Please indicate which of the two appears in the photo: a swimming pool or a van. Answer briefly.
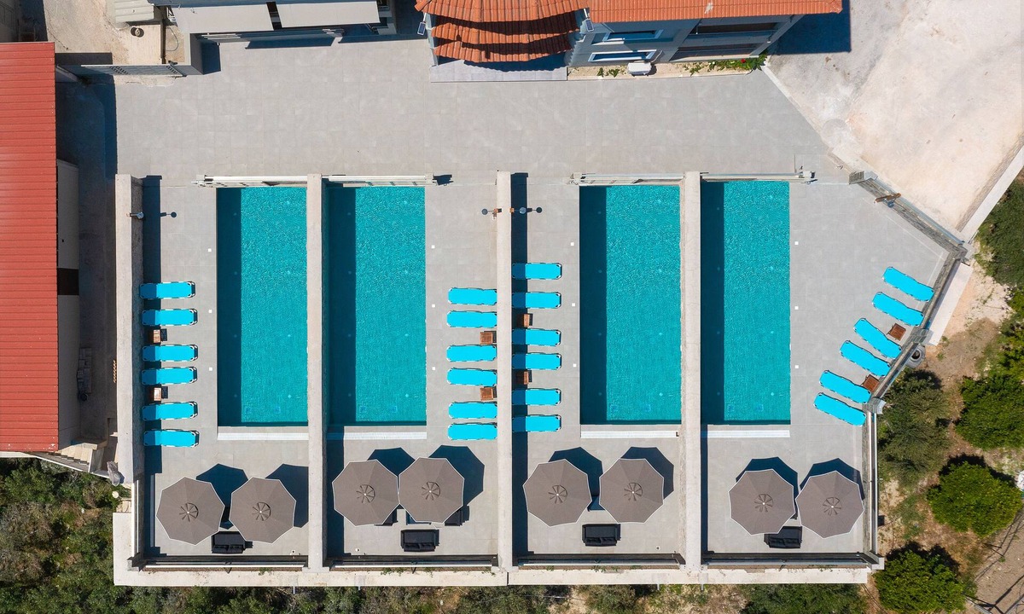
swimming pool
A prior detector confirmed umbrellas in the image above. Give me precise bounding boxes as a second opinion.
[229,477,295,544]
[398,458,464,524]
[599,459,664,524]
[524,459,591,526]
[796,470,864,539]
[333,460,399,526]
[156,476,225,545]
[729,469,795,535]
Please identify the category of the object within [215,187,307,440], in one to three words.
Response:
swimming pool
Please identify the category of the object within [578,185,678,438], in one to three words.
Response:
swimming pool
